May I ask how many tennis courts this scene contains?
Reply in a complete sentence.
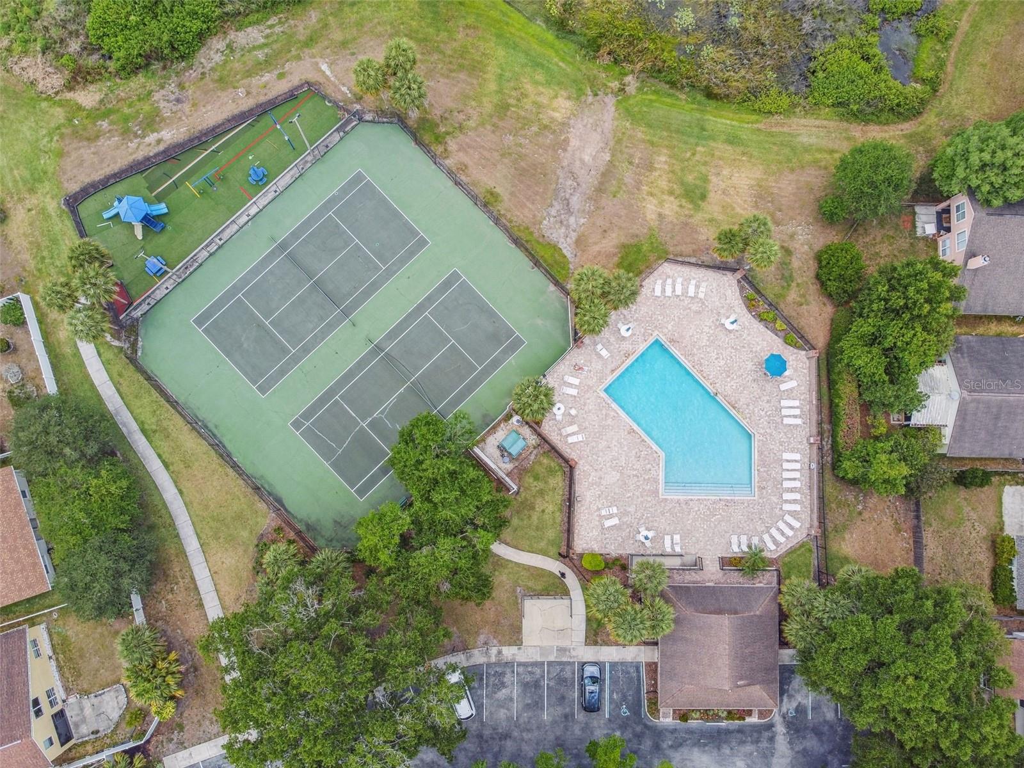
The picture shows 2 tennis courts.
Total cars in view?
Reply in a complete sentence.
The picture shows 2 cars.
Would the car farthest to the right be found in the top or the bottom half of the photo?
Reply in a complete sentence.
The bottom half of the photo is where the car farthest to the right is.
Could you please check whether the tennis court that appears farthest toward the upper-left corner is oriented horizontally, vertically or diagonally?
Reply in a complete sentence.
Seen from above, the tennis court that appears farthest toward the upper-left corner lies diagonally.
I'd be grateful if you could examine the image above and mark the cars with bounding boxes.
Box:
[580,662,603,714]
[445,667,476,722]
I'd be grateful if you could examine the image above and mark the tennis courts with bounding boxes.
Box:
[191,169,430,397]
[289,268,527,500]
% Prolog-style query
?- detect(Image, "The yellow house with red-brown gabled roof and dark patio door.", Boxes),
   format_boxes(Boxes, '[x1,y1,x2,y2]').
[0,626,74,768]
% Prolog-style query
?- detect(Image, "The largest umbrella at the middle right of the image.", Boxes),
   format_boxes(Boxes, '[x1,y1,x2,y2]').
[763,355,786,378]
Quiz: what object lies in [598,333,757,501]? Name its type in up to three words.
swimming pool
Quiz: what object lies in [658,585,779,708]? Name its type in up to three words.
building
